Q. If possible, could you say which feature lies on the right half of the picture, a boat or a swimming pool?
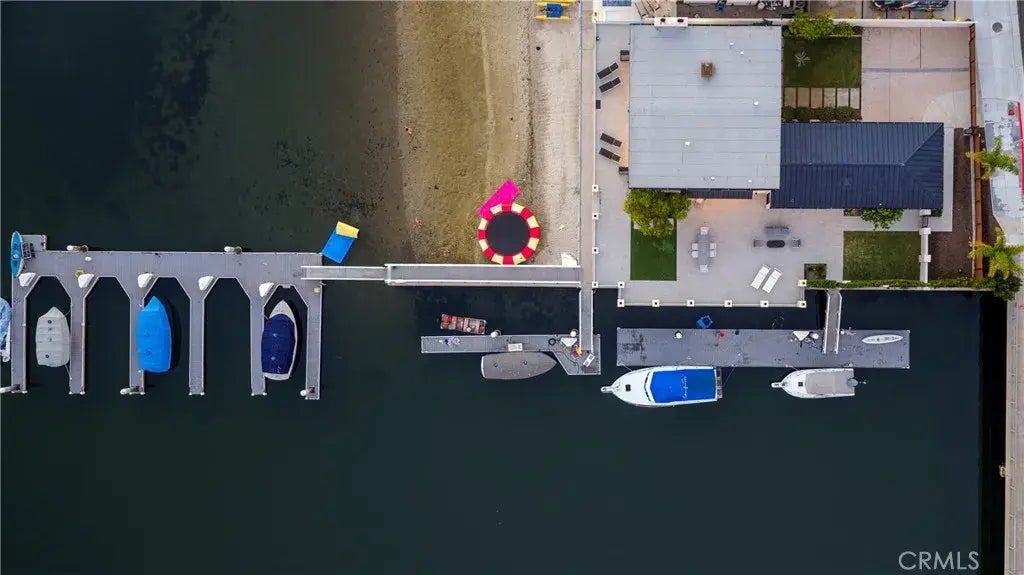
boat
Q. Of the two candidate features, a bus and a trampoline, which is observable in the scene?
trampoline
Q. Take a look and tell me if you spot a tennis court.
No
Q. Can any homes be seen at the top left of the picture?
No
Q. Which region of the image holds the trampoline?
center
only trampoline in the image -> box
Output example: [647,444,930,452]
[477,203,541,264]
